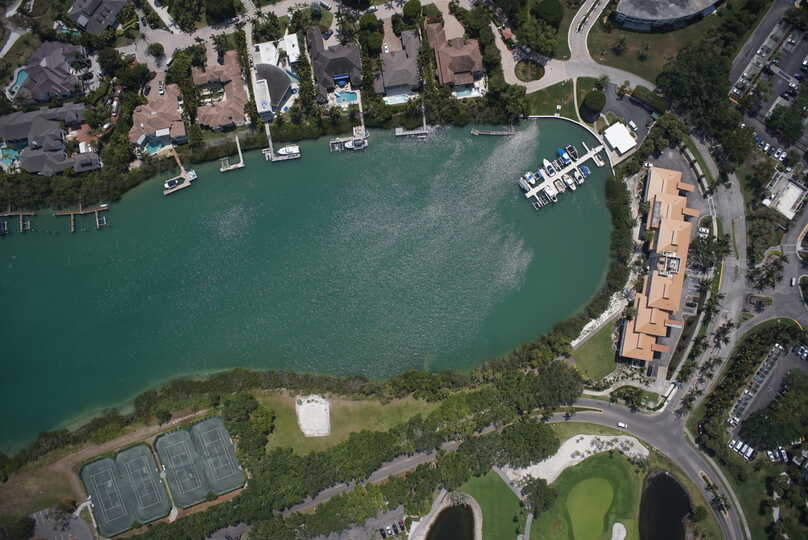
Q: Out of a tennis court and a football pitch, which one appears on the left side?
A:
tennis court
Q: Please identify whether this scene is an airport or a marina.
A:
marina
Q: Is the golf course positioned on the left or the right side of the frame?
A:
right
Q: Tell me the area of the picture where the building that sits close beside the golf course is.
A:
right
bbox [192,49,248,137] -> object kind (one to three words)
house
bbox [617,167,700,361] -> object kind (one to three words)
building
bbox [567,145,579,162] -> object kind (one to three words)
boat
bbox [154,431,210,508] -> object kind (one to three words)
tennis court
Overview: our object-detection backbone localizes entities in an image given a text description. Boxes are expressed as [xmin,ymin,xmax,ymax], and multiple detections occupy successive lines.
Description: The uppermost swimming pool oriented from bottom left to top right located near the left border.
[10,69,28,92]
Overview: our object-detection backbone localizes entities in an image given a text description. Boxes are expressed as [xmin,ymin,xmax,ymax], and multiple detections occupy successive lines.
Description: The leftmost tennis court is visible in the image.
[81,459,139,537]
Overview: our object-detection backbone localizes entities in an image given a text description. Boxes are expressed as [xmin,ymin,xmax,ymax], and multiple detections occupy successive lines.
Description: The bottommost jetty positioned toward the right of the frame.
[522,141,604,207]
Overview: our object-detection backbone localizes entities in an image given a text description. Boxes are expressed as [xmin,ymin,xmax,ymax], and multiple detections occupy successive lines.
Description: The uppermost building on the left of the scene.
[64,0,140,36]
